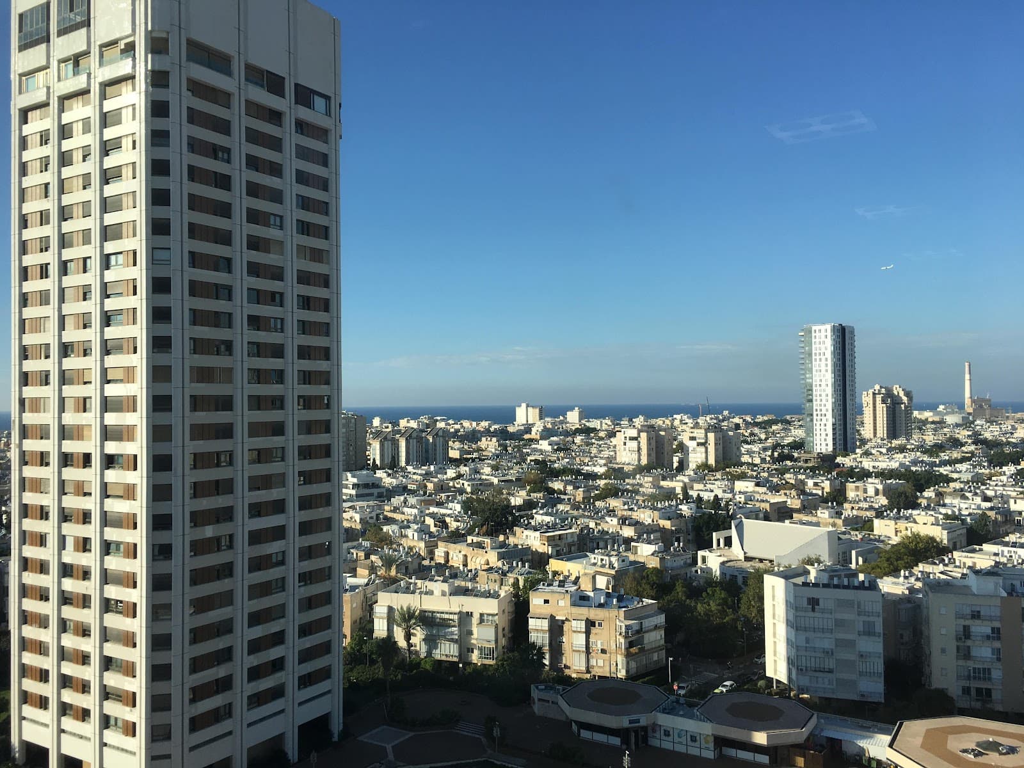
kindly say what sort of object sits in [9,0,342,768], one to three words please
building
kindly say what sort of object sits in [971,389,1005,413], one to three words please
building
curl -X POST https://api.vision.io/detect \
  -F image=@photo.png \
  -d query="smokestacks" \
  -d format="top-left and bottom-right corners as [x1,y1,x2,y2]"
[964,361,976,412]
